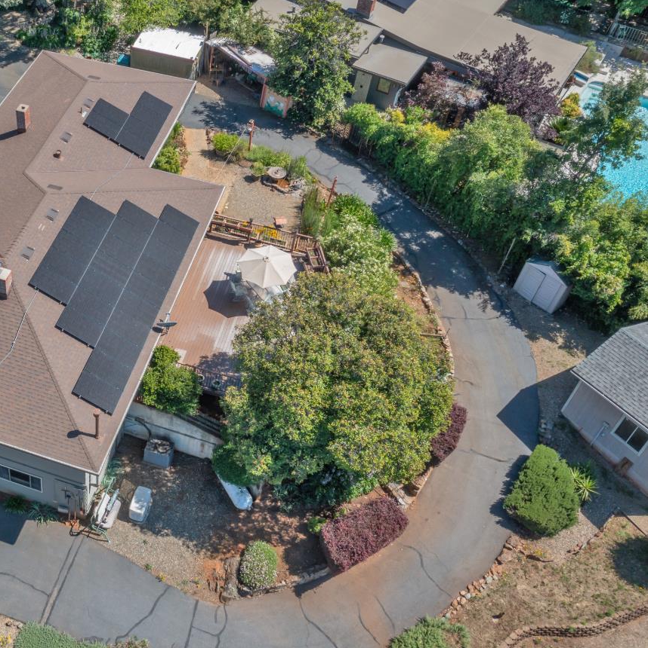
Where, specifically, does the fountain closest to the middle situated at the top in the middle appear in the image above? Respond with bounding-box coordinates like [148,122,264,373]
[268,165,290,186]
